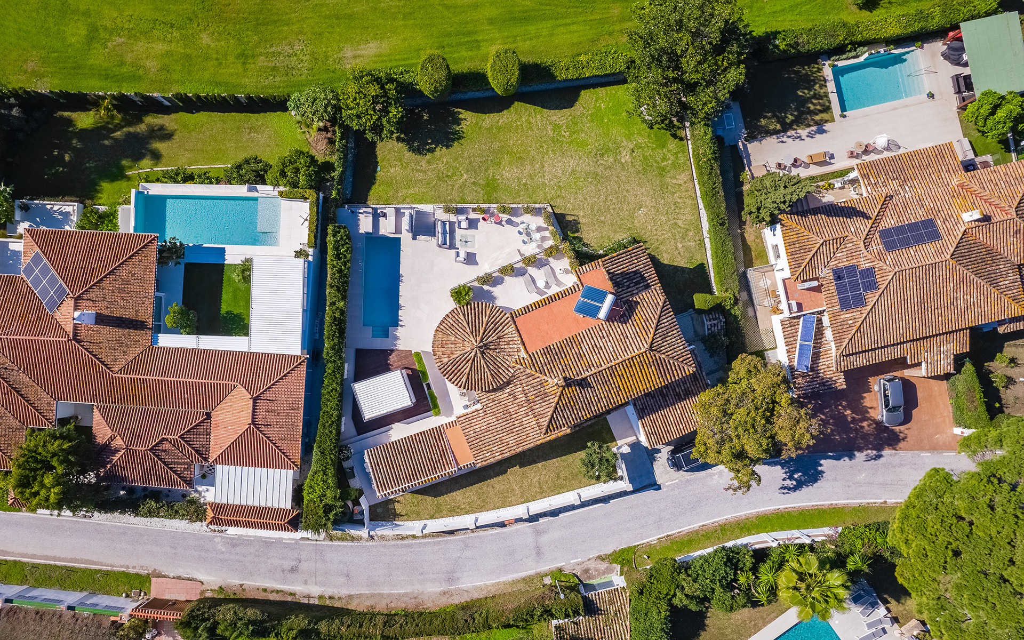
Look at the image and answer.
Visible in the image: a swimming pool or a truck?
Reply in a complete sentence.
Looking from above, you can make out a swimming pool.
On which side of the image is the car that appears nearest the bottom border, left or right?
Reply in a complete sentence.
The car that appears nearest the bottom border is on the right side of the image.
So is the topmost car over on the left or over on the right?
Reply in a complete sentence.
It is on the right.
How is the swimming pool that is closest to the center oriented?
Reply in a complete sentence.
In this picture, the swimming pool that is closest to the center lies up and down.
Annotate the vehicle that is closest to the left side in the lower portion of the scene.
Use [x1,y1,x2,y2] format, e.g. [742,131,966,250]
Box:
[663,441,716,477]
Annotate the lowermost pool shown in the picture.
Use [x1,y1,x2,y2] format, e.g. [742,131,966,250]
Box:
[775,615,840,640]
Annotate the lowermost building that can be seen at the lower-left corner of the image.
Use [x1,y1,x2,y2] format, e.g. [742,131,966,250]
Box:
[130,597,194,622]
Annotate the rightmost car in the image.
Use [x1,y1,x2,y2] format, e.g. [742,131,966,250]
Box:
[875,372,907,426]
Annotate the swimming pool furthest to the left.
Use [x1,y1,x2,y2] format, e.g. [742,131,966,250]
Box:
[139,193,280,245]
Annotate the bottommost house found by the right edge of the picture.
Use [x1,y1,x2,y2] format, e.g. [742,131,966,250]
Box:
[753,140,1024,396]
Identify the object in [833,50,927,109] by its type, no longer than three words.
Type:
swimming pool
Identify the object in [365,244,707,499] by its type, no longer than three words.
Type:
house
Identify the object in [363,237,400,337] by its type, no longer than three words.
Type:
swimming pool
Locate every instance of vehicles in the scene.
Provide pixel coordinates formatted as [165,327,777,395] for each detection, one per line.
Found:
[663,441,716,477]
[875,372,907,426]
